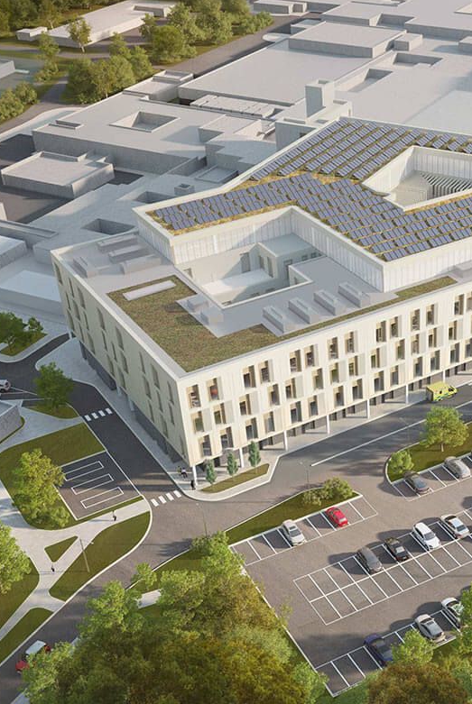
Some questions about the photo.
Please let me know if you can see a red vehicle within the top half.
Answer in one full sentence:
No, I see no red vehicle within the top half.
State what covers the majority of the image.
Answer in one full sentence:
Most of the picture is covered by buildings.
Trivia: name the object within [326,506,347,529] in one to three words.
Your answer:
car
